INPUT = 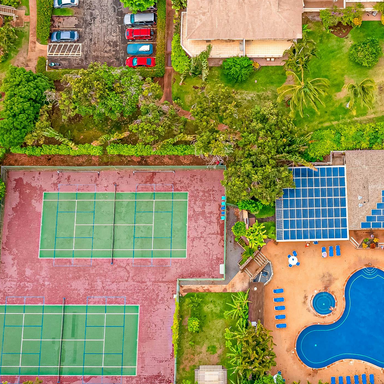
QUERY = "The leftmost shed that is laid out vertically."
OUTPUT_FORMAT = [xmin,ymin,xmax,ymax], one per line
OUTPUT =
[249,282,263,326]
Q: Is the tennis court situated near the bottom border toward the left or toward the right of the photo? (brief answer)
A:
left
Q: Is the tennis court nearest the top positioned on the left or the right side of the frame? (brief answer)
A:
left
